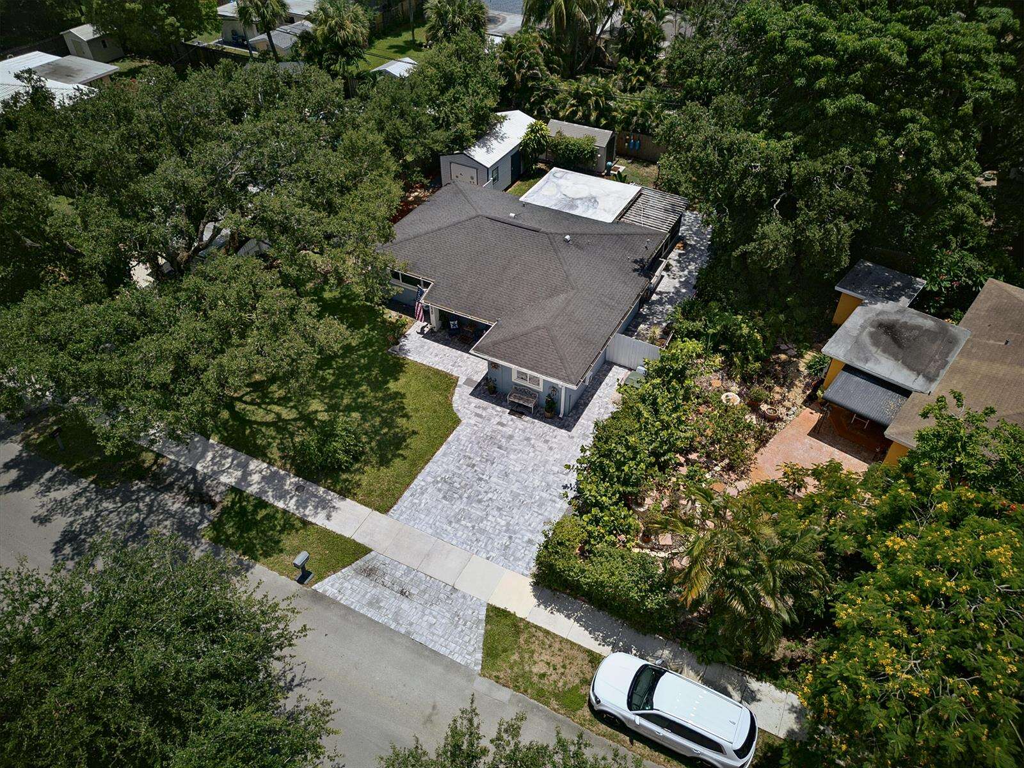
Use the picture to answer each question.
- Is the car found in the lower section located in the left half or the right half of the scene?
right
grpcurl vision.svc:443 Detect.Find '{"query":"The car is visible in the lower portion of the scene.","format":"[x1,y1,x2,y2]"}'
[596,658,751,768]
